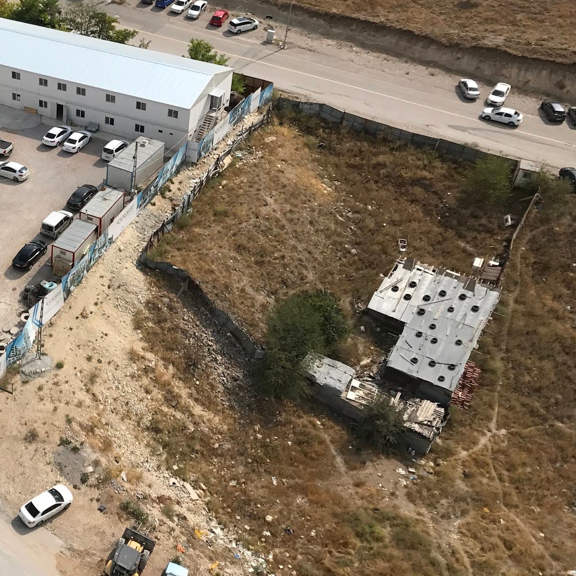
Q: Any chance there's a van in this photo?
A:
Yes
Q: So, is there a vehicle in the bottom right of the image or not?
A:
No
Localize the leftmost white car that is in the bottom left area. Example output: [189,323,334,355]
[19,485,73,527]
